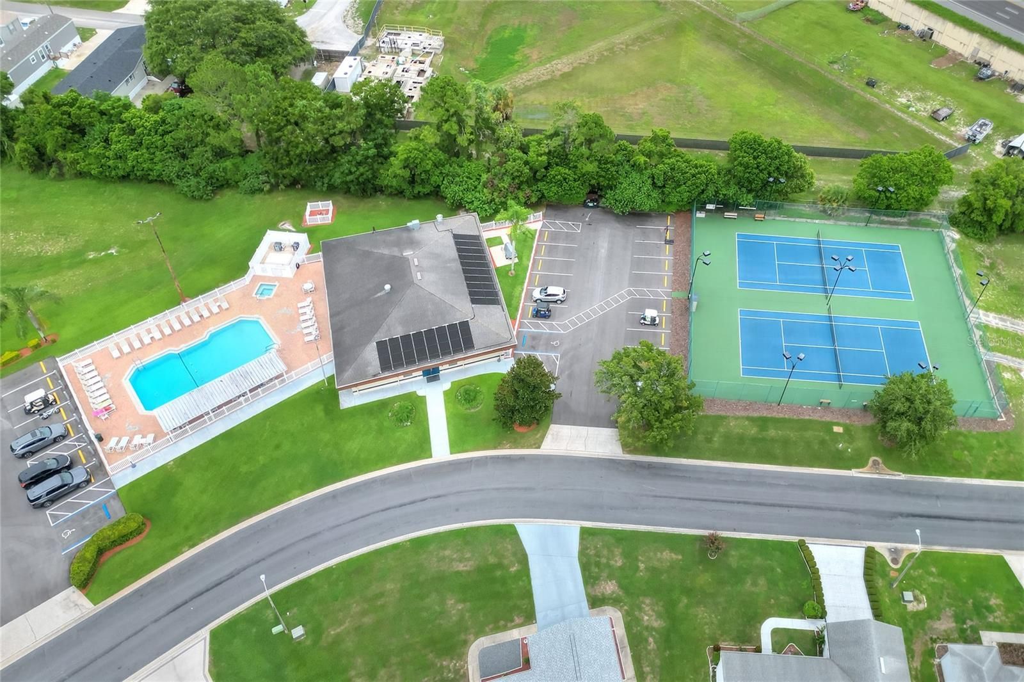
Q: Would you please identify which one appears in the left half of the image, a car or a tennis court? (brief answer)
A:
car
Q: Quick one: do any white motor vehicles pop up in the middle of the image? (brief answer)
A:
Yes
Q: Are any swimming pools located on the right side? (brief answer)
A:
No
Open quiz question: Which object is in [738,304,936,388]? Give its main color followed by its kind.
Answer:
blue tennis court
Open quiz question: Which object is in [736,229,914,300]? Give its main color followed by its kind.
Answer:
blue tennis court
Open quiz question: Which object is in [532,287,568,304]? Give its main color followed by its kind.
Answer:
white car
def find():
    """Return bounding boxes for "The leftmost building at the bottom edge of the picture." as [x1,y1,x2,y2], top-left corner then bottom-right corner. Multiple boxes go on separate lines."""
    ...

[485,616,621,682]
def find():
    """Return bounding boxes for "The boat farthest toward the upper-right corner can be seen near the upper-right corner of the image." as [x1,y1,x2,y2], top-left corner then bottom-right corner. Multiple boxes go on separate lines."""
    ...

[979,64,996,80]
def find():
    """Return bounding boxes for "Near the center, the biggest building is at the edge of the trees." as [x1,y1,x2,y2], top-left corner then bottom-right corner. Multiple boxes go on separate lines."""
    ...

[317,213,521,403]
